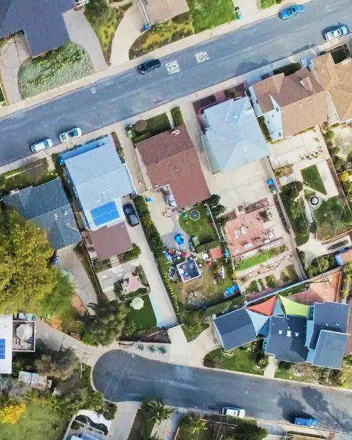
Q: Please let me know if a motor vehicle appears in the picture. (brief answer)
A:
Yes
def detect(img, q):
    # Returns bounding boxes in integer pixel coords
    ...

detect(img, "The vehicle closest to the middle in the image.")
[122,201,141,228]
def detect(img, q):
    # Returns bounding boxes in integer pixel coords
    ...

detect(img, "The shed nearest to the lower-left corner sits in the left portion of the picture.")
[19,371,46,389]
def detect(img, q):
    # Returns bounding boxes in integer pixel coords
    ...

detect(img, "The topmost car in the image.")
[278,3,306,21]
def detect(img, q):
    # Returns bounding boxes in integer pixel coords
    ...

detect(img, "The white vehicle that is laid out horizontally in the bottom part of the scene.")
[219,406,247,420]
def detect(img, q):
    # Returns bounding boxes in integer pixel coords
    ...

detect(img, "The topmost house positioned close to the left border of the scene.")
[0,0,76,61]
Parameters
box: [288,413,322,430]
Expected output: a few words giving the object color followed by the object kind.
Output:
blue car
